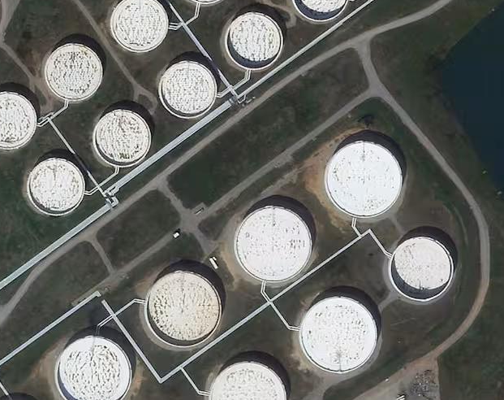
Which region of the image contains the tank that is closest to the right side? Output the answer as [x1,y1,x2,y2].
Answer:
[389,236,454,301]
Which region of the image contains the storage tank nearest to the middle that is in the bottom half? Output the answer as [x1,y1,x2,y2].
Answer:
[234,204,312,282]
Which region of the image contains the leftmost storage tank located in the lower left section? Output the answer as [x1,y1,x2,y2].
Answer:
[56,334,132,400]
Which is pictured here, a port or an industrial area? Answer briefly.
industrial area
